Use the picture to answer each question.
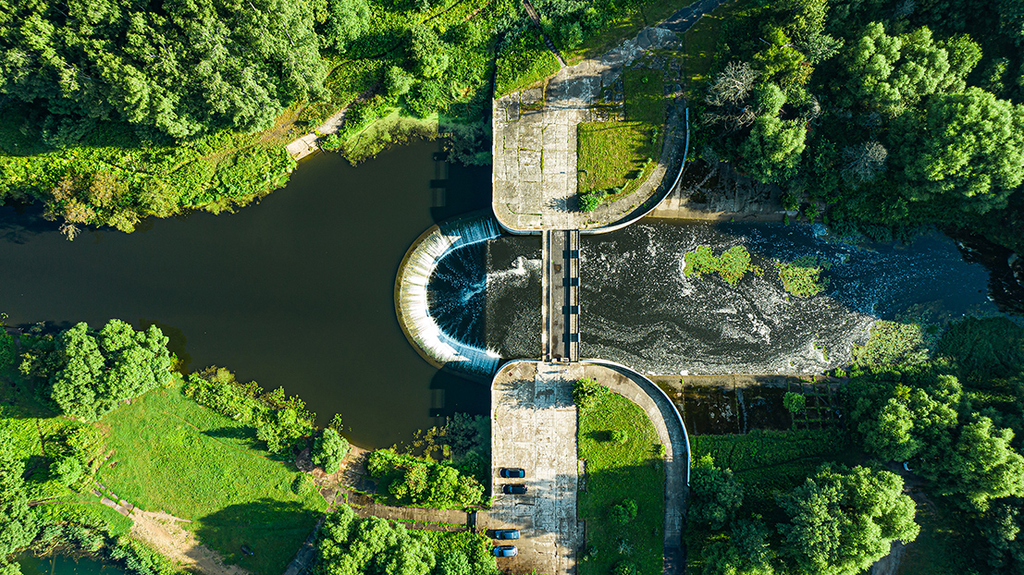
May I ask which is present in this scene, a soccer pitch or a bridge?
bridge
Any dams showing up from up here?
Yes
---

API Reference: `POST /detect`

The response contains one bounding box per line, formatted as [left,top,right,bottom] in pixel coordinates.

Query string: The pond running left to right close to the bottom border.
[14,548,130,575]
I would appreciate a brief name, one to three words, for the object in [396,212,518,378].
dam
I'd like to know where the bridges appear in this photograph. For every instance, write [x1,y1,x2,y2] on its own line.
[542,230,580,362]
